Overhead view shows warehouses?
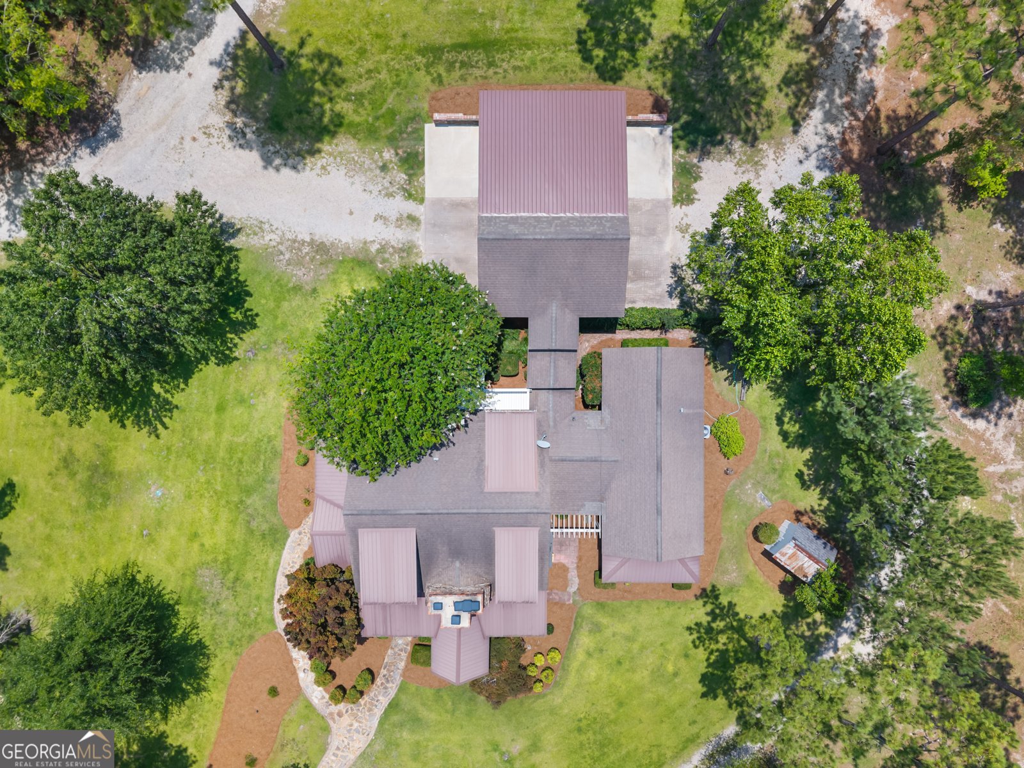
No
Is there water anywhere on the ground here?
No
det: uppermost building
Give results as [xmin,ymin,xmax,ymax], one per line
[477,90,631,317]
